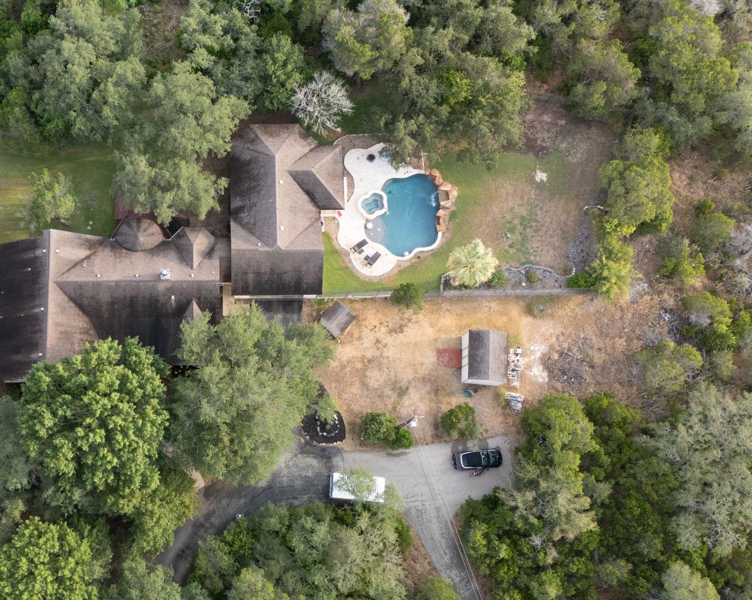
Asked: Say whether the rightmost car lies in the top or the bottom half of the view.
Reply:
bottom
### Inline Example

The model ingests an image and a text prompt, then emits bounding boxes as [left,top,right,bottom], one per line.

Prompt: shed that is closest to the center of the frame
[320,302,355,339]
